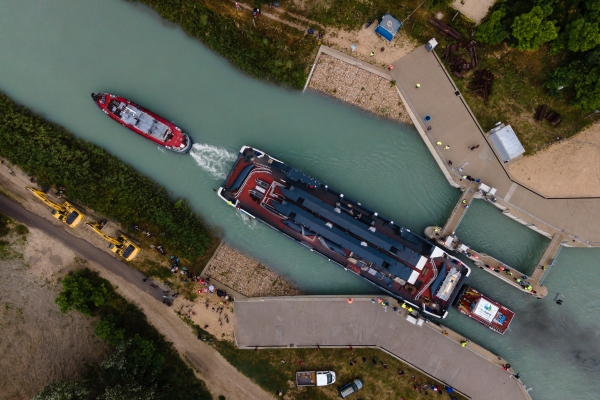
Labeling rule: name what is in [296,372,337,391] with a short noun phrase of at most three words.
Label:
vehicle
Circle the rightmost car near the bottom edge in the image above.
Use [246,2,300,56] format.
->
[337,378,364,400]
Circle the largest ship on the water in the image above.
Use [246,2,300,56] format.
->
[216,145,473,319]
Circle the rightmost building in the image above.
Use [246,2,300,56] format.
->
[488,121,530,170]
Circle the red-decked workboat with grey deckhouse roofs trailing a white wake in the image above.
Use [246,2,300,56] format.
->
[90,91,195,155]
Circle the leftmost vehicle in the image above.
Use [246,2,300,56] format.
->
[27,189,93,228]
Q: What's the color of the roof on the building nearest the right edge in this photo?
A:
white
